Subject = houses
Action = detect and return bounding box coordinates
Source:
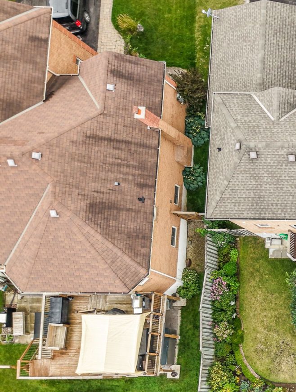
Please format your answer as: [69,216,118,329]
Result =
[204,0,296,239]
[0,1,200,295]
